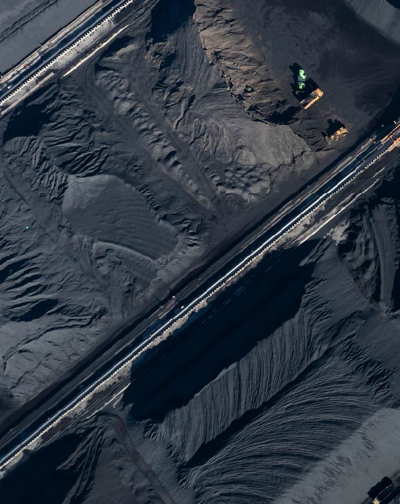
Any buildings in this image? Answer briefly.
No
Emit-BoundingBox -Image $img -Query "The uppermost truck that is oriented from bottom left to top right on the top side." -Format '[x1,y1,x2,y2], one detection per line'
[301,88,323,111]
